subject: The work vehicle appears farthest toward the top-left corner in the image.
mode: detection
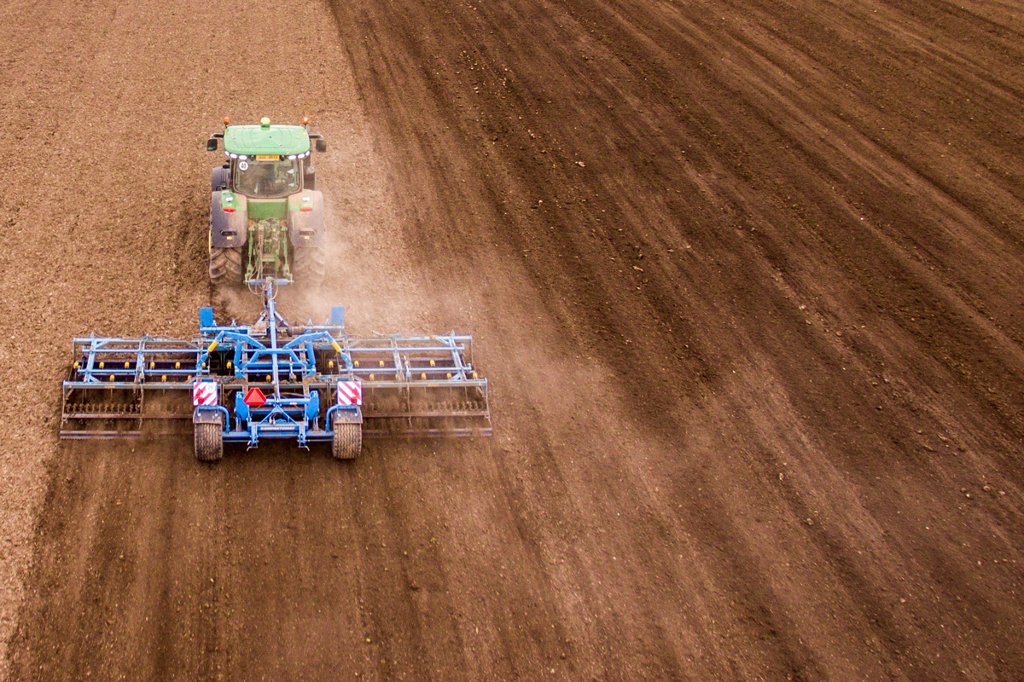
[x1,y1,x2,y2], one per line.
[208,114,324,294]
